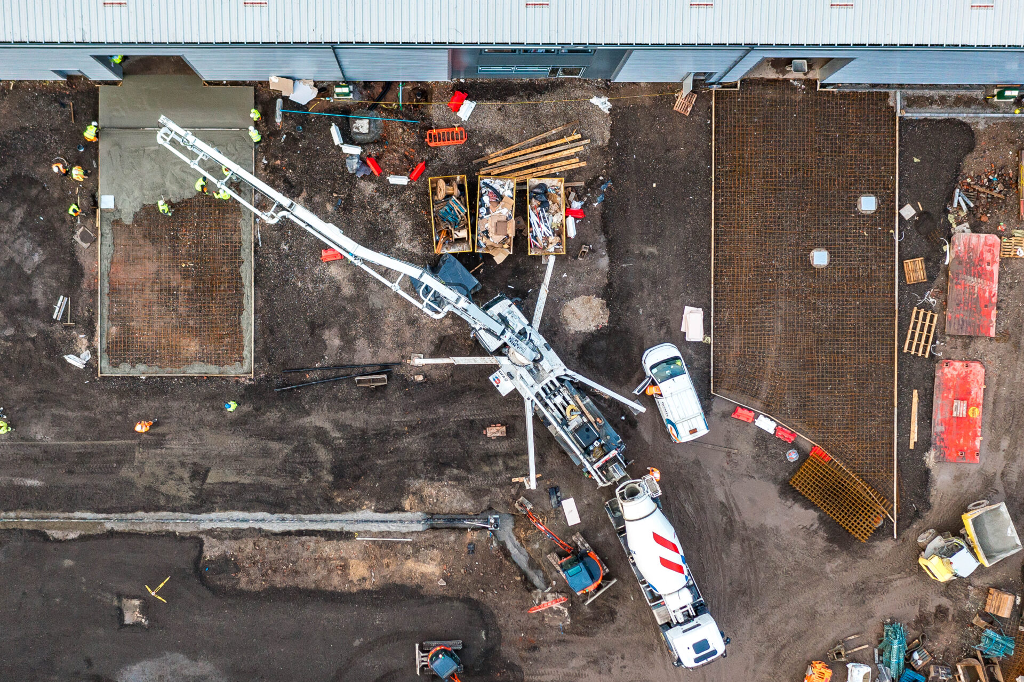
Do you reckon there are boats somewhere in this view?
No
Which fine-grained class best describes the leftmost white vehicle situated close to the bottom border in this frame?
truck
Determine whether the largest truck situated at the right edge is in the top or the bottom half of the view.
bottom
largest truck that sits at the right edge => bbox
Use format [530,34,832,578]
[911,495,1022,582]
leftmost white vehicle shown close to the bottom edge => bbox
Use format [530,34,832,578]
[603,465,729,675]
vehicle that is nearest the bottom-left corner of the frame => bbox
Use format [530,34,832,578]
[415,637,460,682]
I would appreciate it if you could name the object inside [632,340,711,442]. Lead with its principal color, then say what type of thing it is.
white van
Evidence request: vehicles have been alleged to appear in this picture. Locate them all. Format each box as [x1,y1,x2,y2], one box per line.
[518,492,617,605]
[156,116,646,489]
[632,340,711,442]
[415,637,460,682]
[911,495,1022,582]
[603,465,729,675]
